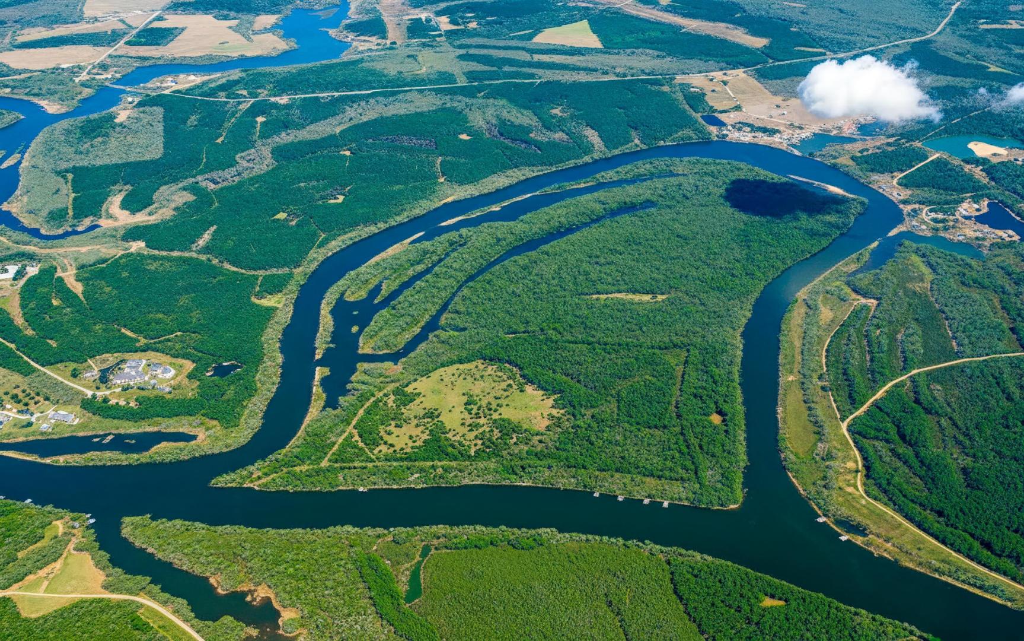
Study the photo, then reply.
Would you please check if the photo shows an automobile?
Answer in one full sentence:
No, there's no automobile here.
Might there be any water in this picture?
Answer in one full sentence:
Yes, the picture does contain water.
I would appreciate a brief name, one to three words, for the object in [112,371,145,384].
building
